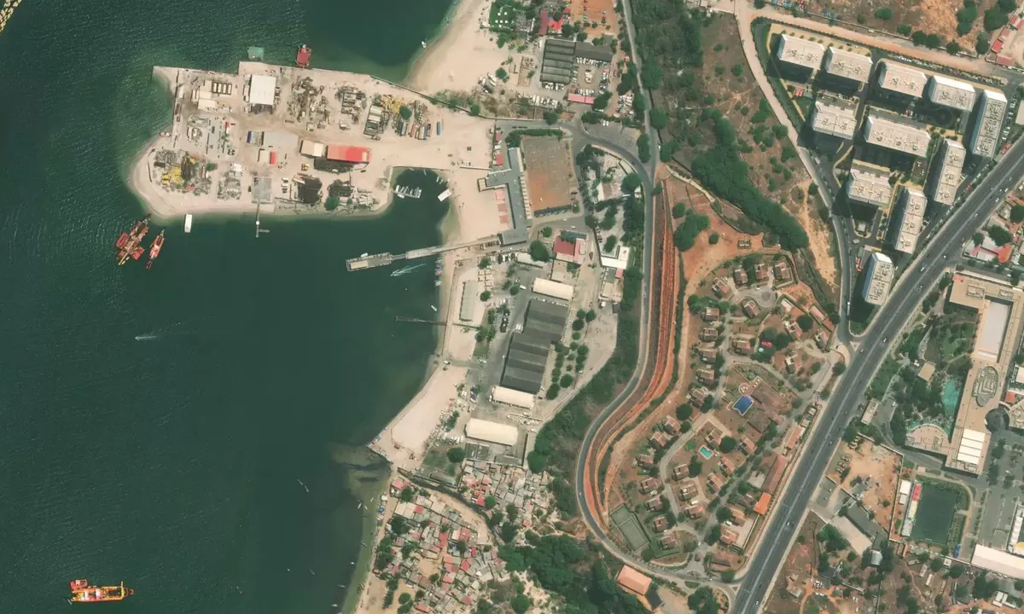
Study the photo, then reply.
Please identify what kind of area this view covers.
port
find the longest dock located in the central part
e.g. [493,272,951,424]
[405,235,500,259]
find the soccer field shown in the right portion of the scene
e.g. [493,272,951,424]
[910,482,956,543]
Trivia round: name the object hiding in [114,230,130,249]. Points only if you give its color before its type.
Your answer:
red ship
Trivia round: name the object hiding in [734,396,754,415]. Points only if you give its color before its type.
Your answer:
blue swimming pool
